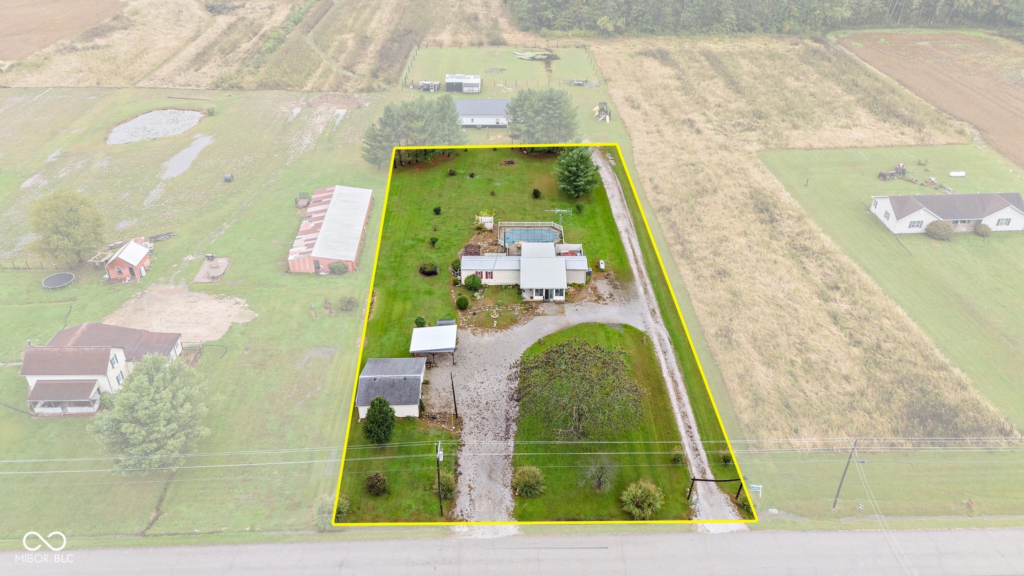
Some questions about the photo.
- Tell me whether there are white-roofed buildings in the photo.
Yes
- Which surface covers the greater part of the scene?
grass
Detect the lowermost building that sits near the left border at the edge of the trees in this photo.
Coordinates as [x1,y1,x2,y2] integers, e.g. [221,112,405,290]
[20,321,182,414]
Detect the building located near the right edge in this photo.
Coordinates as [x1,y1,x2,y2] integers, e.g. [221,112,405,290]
[873,189,1024,234]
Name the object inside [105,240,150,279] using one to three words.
shed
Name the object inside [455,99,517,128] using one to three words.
house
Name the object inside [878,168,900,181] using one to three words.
vehicle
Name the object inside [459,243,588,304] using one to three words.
house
